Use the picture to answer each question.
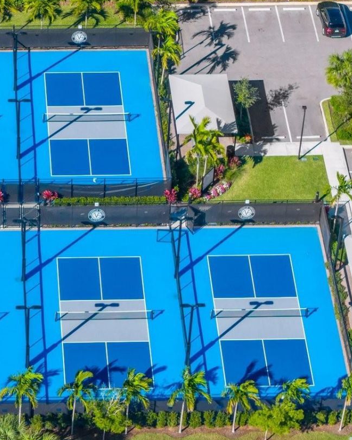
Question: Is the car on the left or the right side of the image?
right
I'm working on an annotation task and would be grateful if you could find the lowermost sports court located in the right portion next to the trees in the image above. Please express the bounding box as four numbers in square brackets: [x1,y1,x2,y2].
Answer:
[171,226,352,398]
